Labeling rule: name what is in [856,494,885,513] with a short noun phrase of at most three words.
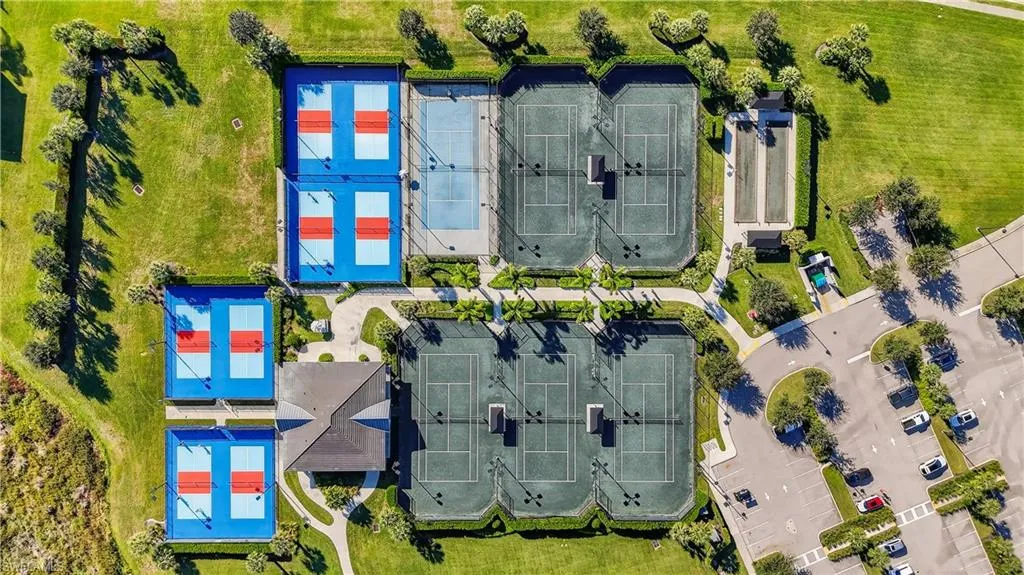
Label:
car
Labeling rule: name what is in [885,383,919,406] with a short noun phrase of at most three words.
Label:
truck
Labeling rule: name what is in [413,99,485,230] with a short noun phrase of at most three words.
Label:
tennis court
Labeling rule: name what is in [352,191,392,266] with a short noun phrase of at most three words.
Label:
sports court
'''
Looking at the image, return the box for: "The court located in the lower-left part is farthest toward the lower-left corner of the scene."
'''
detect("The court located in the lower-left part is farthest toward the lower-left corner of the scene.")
[173,445,214,520]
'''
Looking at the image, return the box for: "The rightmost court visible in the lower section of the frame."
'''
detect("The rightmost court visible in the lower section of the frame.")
[609,354,680,482]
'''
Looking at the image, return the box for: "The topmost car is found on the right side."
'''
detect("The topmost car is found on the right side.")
[927,347,955,363]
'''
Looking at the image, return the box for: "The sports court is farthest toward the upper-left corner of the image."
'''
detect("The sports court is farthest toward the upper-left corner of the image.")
[294,85,334,159]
